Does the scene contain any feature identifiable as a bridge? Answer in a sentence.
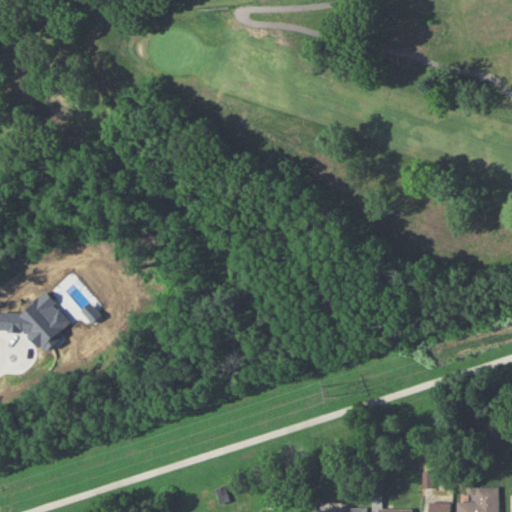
No, the photo shows no bridge.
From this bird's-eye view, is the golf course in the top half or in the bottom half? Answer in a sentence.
You can find the golf course in the top half.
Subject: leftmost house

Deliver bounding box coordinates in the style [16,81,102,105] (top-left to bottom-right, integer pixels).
[0,293,71,352]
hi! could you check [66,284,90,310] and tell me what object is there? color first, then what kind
blue swimming pool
